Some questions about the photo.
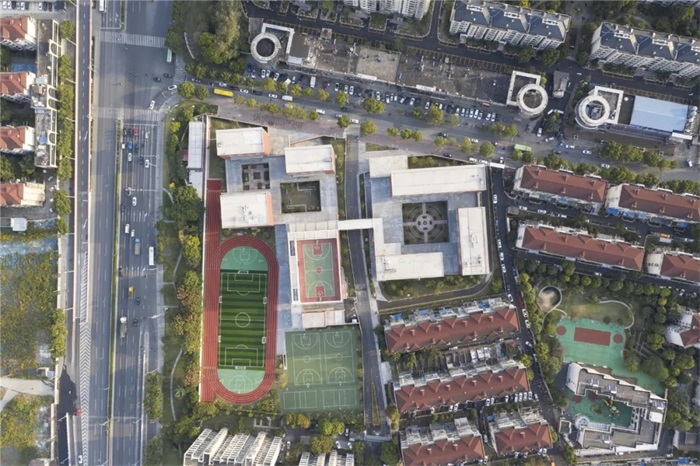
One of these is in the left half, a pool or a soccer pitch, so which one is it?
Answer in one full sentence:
It is a soccer pitch that can be seen in the left half.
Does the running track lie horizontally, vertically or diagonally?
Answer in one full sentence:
The running track runs vertically in the image.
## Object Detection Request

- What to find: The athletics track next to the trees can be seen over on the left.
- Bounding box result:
[202,180,278,403]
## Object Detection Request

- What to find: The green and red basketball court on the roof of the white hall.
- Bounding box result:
[297,238,340,303]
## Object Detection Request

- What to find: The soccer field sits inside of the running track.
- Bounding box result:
[217,271,267,367]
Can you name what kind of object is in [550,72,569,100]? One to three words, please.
shed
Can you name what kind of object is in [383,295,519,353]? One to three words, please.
house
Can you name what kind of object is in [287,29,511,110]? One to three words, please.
building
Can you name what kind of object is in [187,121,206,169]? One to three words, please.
shed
